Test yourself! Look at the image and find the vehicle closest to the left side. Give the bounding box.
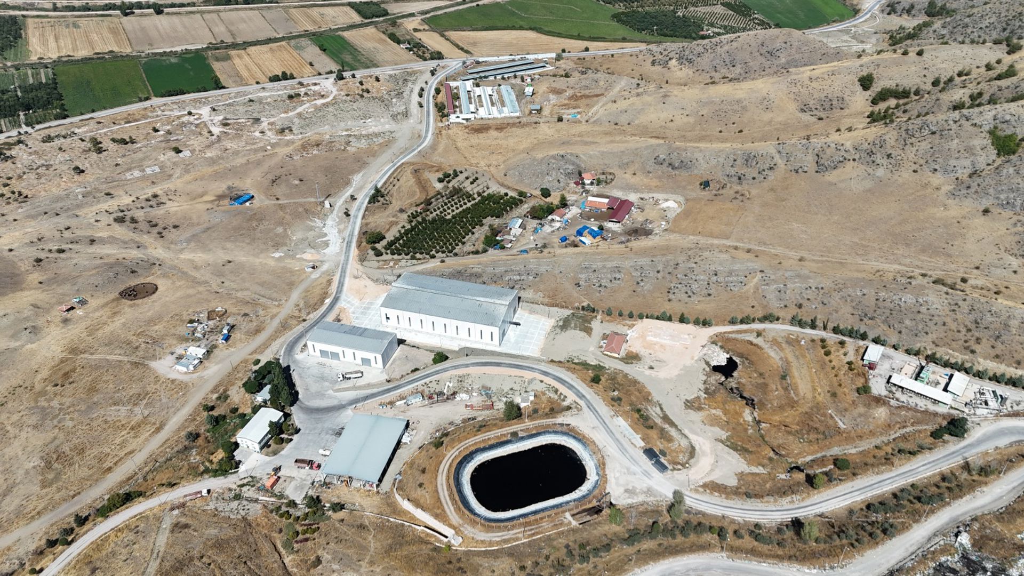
[180,485,212,501]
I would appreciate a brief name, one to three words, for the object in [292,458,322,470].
vehicle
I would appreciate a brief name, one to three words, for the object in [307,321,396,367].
building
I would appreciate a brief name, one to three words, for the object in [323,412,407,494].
shed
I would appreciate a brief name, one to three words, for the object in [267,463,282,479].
work vehicle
